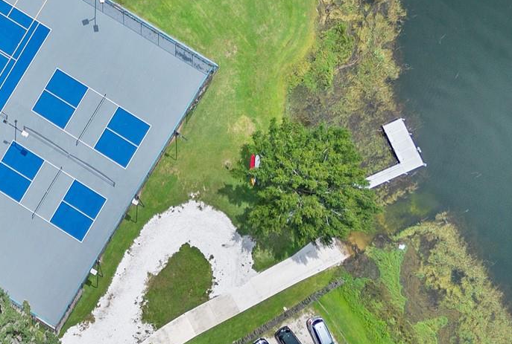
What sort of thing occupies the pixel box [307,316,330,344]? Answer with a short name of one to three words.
car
